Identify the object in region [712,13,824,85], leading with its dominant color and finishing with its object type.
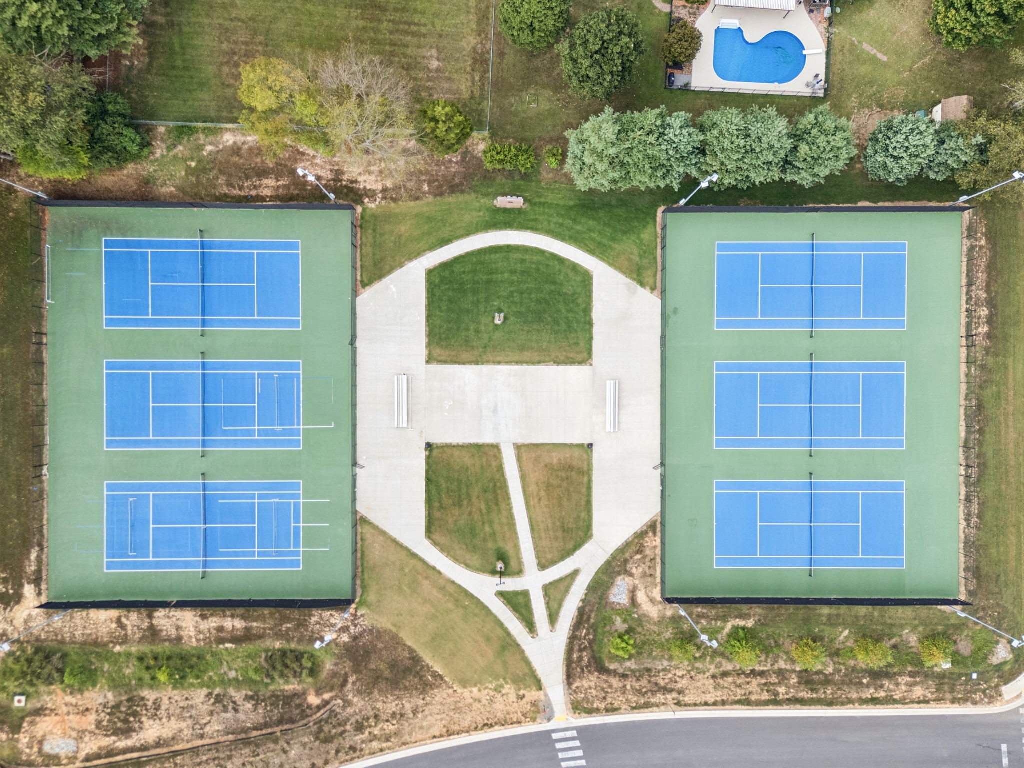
blue swimming pool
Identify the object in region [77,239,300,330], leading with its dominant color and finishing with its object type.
blue tennis court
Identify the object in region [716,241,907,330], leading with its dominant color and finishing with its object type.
blue tennis court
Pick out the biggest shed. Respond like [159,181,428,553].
[933,94,974,130]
